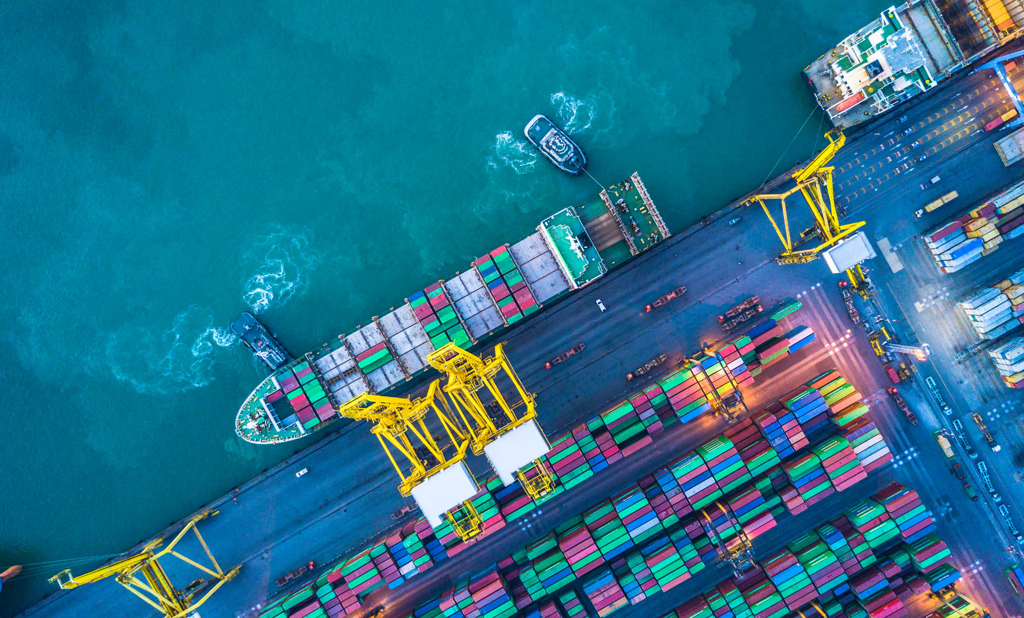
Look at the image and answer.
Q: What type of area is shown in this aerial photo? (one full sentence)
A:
This image shows a port.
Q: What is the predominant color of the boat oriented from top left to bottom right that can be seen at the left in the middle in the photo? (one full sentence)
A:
The boat oriented from top left to bottom right that can be seen at the left in the middle looks blue in the image.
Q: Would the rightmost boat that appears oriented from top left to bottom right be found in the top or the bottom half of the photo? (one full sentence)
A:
You can find the rightmost boat that appears oriented from top left to bottom right in the top half.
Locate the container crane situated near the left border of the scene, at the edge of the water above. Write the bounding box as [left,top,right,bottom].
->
[40,505,251,618]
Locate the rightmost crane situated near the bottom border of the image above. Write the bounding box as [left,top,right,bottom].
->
[932,582,997,618]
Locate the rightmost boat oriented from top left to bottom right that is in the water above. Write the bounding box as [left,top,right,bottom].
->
[522,110,589,178]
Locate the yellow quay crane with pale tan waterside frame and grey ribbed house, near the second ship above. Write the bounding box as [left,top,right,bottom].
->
[727,118,887,302]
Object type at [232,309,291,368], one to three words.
boat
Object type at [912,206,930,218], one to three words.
vehicle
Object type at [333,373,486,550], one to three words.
container crane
